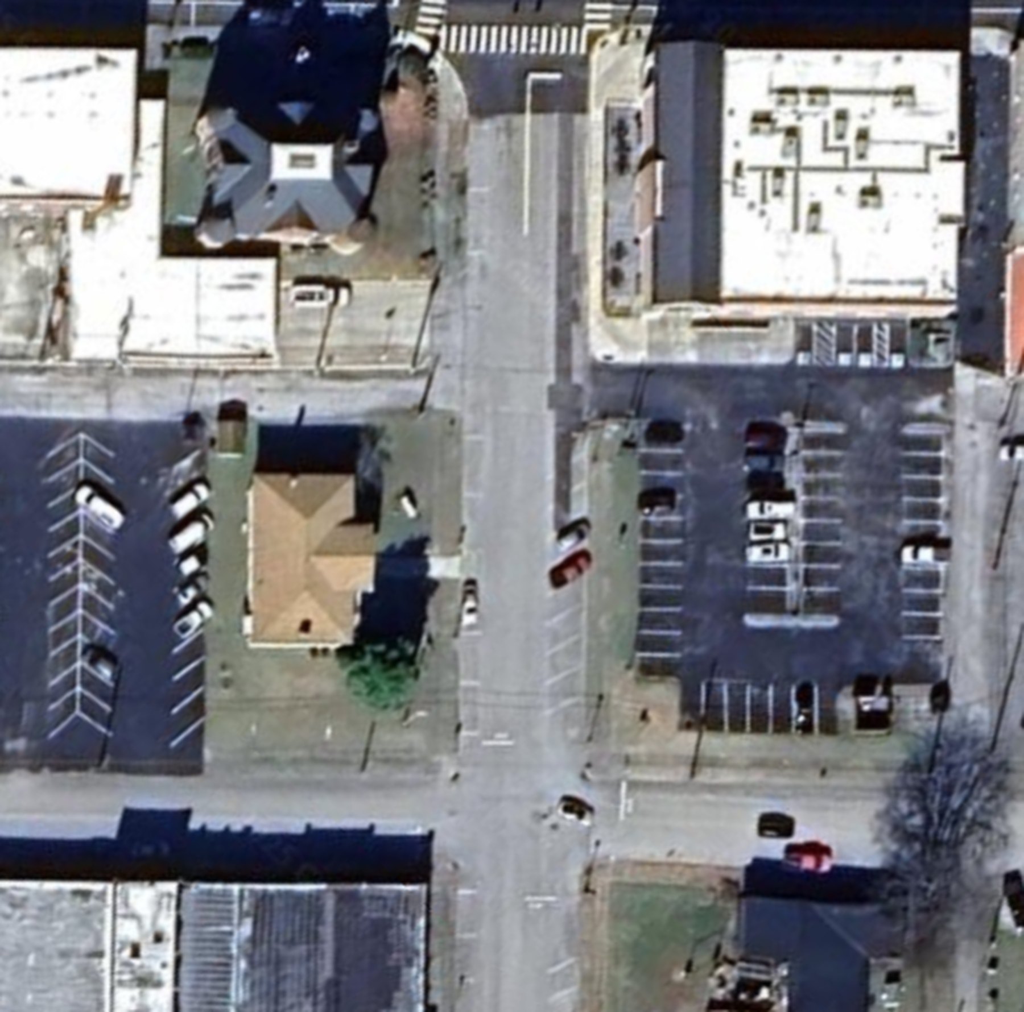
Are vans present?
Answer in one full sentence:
Yes, the image includes a van.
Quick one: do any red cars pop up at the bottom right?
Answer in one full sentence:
Yes, a red car is visible at the bottom right.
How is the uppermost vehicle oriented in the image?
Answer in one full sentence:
The uppermost vehicle is oriented from side to side.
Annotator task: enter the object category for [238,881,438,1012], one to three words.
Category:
building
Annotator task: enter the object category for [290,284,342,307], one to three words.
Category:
vehicle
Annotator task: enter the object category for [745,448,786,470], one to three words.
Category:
car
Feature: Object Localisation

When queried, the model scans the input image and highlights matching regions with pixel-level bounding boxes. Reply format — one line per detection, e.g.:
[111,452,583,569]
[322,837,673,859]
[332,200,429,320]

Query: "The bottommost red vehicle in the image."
[785,847,831,867]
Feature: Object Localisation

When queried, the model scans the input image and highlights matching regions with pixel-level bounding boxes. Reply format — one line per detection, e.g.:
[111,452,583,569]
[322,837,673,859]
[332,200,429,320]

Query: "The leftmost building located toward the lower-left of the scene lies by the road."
[0,880,114,1012]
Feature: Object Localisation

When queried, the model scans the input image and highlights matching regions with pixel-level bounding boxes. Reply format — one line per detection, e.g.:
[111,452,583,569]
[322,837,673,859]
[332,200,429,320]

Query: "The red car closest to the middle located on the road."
[548,552,594,587]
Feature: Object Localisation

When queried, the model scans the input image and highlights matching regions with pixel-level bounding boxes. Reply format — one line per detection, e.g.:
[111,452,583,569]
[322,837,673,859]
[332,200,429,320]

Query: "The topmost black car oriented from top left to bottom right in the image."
[80,643,123,682]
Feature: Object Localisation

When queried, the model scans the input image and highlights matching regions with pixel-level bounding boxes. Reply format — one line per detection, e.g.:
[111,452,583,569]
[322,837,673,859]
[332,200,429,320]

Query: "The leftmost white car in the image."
[77,484,123,528]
